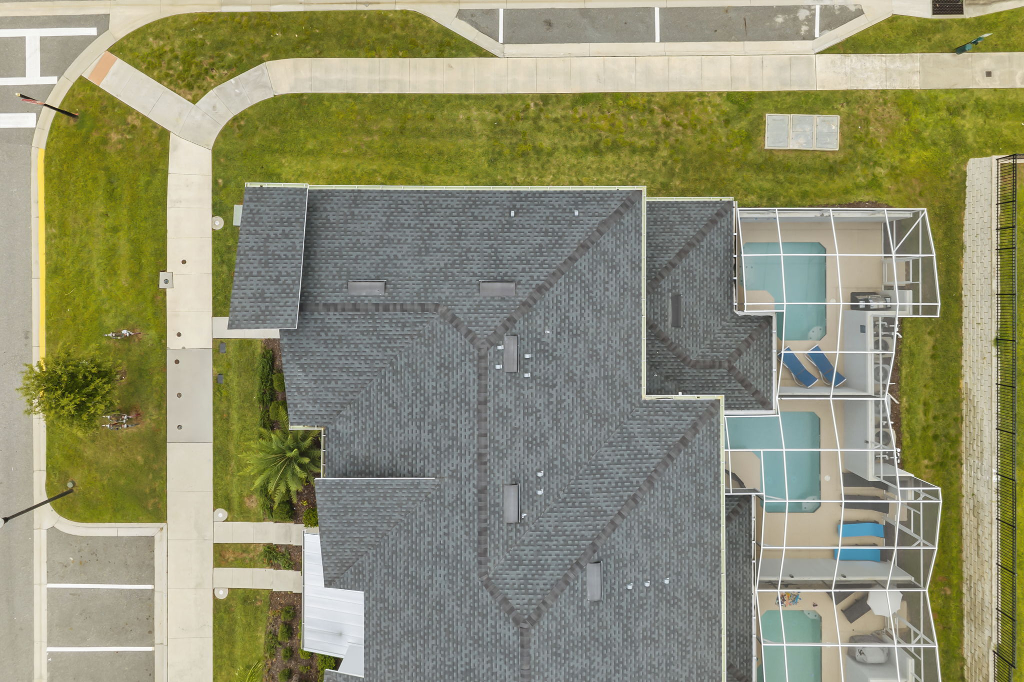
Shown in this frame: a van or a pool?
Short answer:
pool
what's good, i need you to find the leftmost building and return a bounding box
[228,183,780,682]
